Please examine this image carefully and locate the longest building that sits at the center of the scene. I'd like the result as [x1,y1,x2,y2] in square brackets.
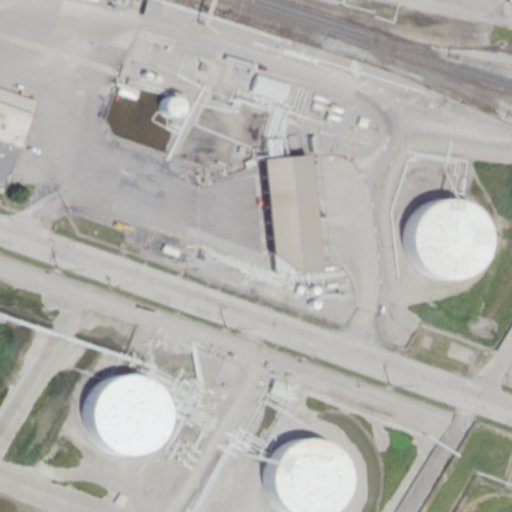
[260,156,324,272]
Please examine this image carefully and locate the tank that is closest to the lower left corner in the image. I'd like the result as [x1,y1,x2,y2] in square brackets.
[80,371,178,457]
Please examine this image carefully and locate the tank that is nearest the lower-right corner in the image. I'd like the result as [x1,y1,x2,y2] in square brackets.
[261,434,358,512]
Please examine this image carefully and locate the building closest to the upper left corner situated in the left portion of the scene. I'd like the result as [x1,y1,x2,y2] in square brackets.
[0,88,36,147]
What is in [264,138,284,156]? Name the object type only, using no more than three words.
shed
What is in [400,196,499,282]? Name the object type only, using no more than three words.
storage tank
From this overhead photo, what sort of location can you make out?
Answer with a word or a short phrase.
industrial area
